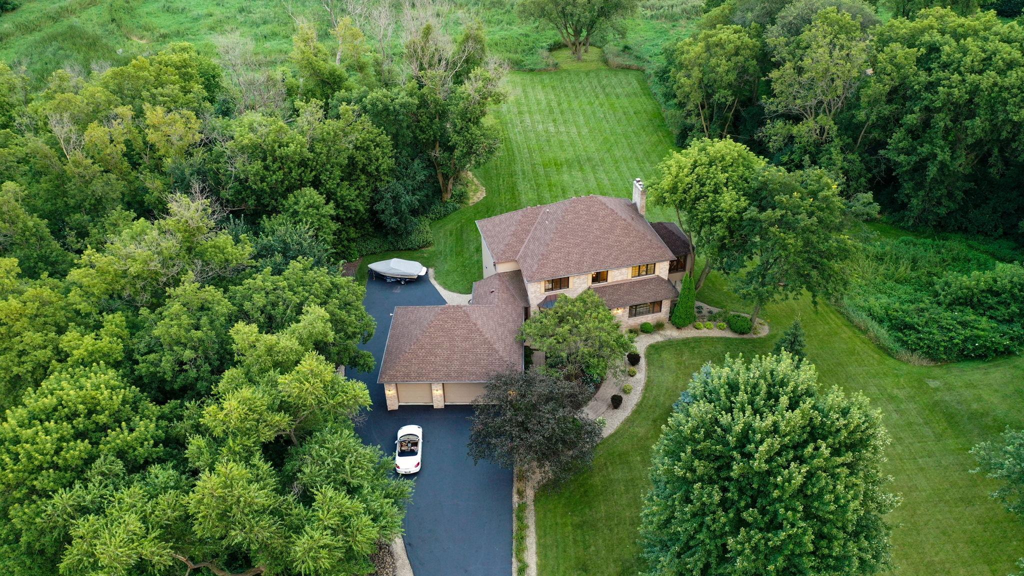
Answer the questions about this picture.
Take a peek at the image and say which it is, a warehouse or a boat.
boat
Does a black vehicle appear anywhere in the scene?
No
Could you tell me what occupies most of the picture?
trees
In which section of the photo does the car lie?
bottom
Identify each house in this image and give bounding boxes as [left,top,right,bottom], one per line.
[377,182,699,408]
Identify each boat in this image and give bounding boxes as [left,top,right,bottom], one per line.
[359,256,427,284]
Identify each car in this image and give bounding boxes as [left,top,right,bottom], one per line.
[394,426,426,476]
